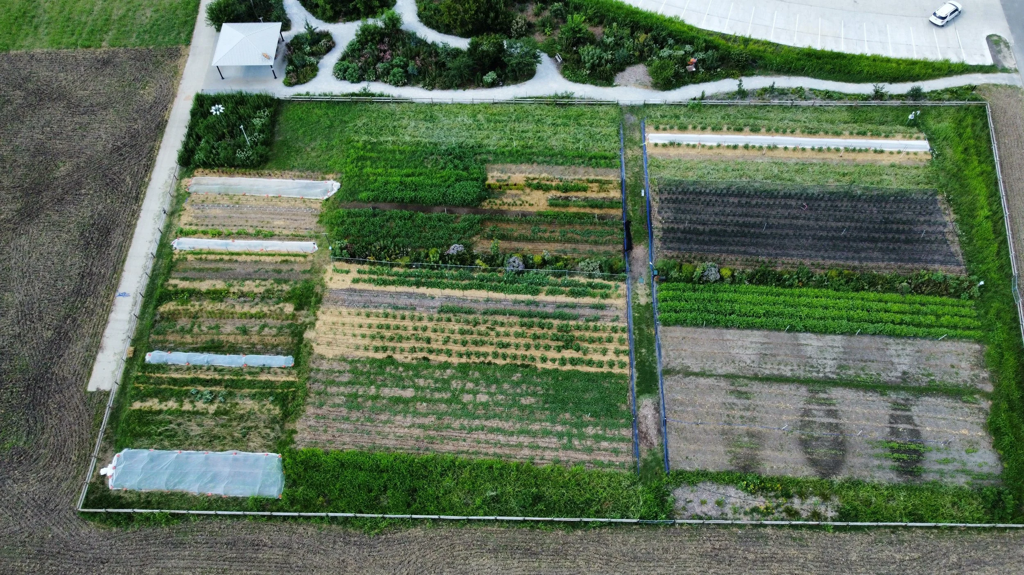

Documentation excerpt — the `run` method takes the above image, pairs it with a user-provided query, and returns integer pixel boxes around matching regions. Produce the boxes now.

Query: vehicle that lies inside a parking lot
[932,0,964,25]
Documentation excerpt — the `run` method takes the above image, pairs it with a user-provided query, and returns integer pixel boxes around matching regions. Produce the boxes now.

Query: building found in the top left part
[209,21,286,79]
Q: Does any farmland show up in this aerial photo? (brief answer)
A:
Yes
